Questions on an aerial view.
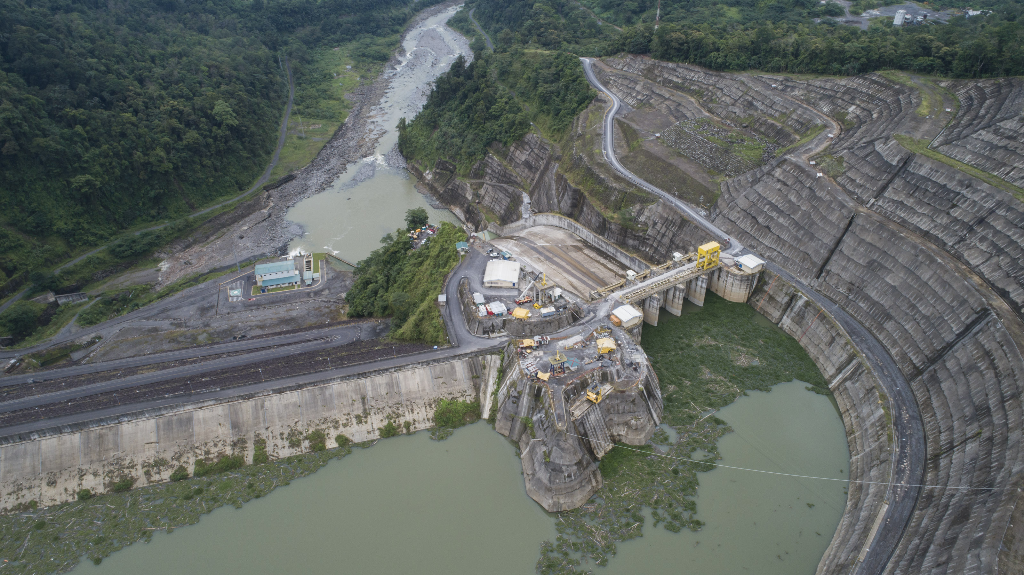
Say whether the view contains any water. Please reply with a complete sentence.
Yes, there is water in the image.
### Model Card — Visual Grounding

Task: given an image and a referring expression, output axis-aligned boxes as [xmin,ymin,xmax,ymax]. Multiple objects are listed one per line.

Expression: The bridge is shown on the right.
[586,256,725,311]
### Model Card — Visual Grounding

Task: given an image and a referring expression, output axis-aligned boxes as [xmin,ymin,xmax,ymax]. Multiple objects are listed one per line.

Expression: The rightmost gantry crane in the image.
[698,240,723,271]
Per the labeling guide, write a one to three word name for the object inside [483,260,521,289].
building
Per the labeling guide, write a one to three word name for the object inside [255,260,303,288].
building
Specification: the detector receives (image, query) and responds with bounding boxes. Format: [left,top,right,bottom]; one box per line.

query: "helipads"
[228,281,244,301]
